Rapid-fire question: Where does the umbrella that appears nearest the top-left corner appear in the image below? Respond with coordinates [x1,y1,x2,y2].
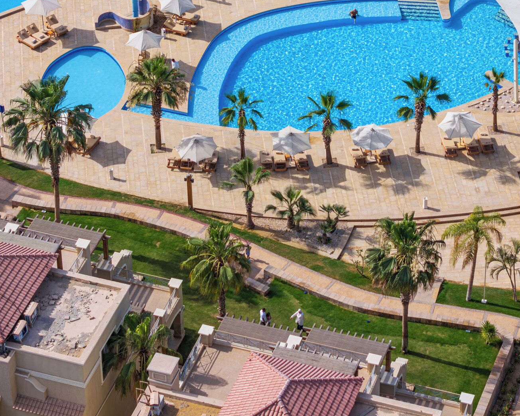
[20,0,63,33]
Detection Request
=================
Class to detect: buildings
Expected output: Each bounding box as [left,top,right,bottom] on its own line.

[139,313,486,416]
[0,213,206,416]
